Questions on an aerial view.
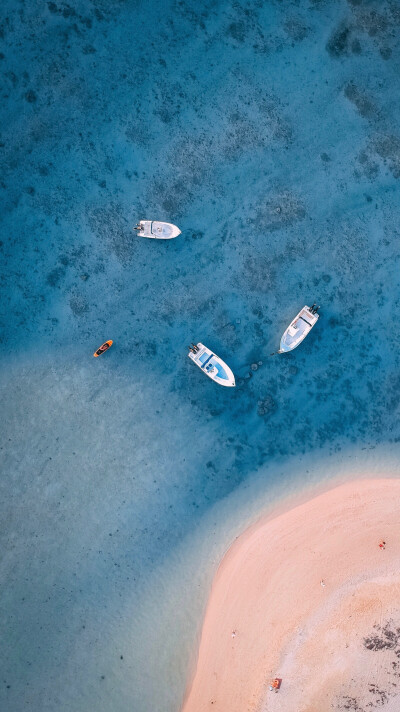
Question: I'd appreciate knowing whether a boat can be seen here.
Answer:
Yes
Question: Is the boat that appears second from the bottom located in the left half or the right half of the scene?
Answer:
right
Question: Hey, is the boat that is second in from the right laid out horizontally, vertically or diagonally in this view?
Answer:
diagonally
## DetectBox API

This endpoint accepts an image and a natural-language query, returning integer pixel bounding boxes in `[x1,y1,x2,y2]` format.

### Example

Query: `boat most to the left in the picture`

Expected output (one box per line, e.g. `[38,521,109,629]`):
[131,219,182,240]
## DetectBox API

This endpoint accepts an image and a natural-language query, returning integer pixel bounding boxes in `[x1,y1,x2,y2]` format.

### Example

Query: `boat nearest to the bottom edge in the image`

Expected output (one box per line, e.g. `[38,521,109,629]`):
[186,341,237,387]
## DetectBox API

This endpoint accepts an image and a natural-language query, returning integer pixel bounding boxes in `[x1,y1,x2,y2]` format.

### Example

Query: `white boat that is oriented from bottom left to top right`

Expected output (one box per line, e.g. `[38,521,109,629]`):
[278,302,321,354]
